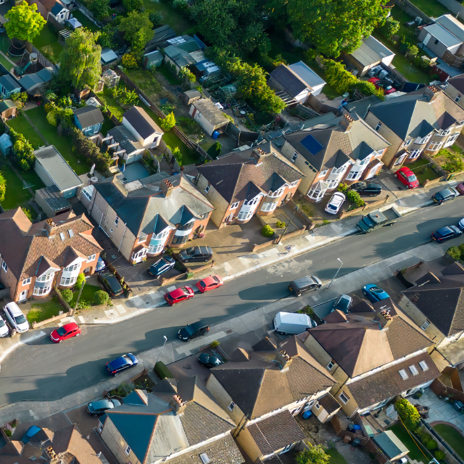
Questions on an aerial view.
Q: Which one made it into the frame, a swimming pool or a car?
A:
car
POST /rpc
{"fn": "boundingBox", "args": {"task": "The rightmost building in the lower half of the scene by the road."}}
[394,249,464,371]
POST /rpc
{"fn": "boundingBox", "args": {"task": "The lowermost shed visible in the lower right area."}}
[365,429,409,464]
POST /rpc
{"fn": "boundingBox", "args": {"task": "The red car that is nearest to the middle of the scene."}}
[191,274,227,294]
